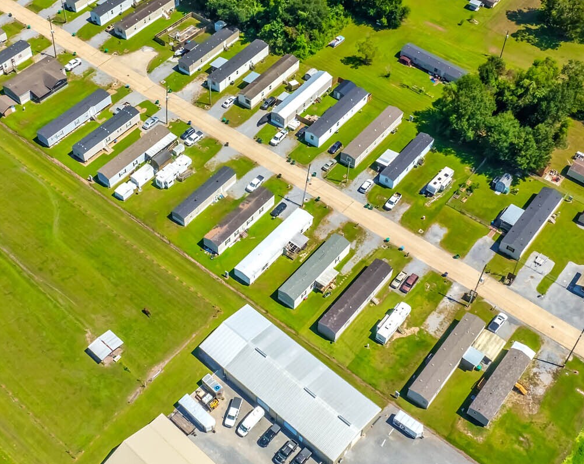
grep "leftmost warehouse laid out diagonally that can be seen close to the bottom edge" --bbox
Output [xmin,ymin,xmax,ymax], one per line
[196,307,381,464]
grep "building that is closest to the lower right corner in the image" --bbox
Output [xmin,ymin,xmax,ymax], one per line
[463,337,538,428]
